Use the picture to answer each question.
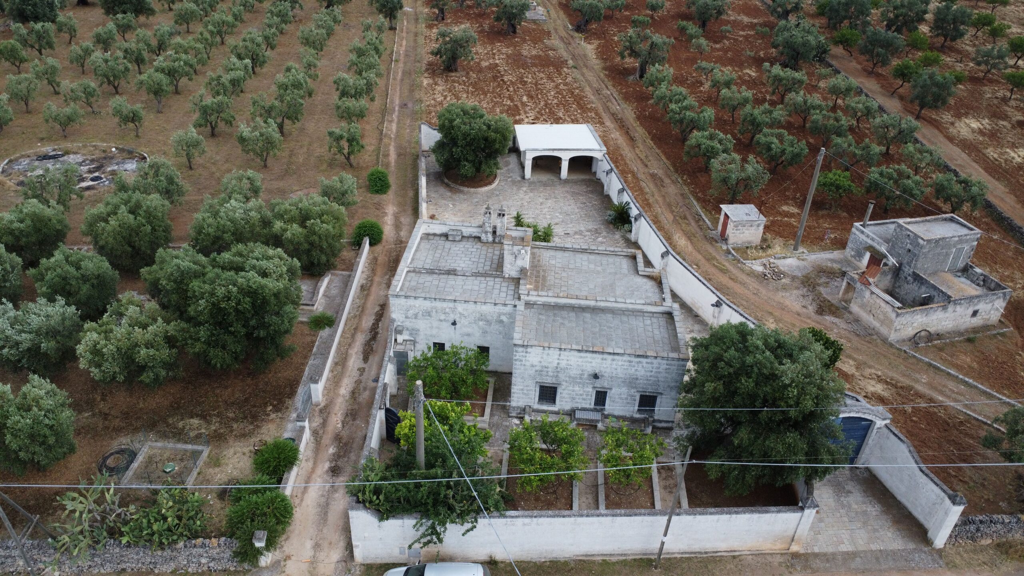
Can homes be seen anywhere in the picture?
Yes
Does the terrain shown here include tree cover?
Yes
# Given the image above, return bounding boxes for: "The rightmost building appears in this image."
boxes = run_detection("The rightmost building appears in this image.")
[834,204,1015,344]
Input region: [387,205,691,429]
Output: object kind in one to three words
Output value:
house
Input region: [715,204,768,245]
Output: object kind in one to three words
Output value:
shed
